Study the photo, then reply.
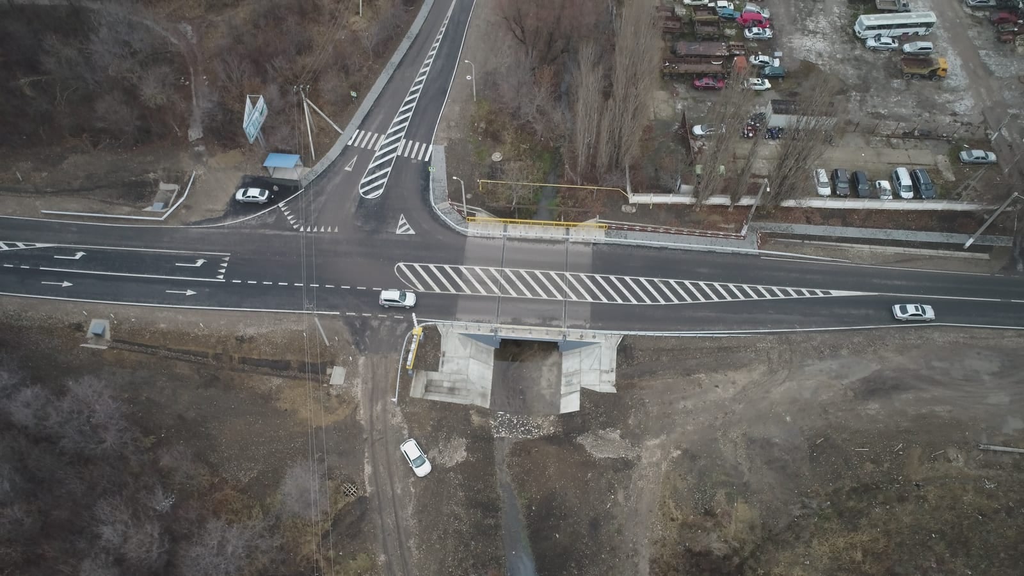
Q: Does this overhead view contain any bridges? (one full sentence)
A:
Yes, there's a bridge down there.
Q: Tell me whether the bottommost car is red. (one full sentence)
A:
No, the bottommost car is white.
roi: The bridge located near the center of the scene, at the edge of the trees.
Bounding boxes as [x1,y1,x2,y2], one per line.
[442,222,606,351]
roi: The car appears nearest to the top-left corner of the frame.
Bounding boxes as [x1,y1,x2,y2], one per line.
[235,186,273,205]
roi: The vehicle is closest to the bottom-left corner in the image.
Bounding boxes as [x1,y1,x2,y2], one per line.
[402,436,432,479]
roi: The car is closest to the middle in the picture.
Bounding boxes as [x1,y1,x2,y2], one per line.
[378,289,417,309]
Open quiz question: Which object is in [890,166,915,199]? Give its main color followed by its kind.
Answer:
white car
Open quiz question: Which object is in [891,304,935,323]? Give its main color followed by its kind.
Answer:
white car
